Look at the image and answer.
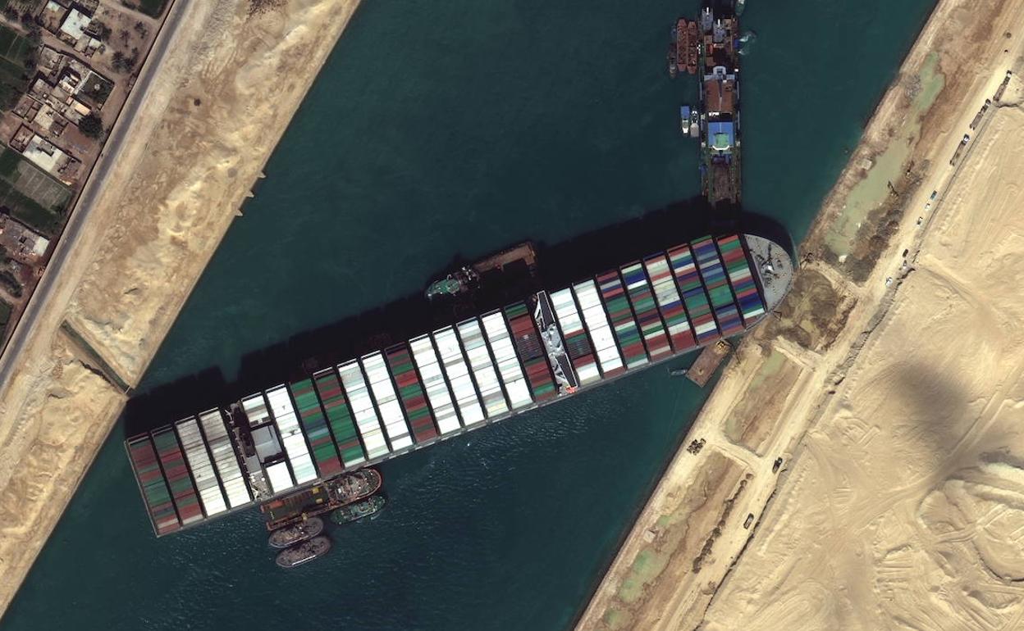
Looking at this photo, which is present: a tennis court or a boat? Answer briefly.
boat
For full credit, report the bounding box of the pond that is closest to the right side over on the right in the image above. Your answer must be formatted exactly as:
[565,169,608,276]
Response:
[826,53,947,254]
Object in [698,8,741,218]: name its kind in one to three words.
ship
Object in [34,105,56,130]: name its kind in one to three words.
house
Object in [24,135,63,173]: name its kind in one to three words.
house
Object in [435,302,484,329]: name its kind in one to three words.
boat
